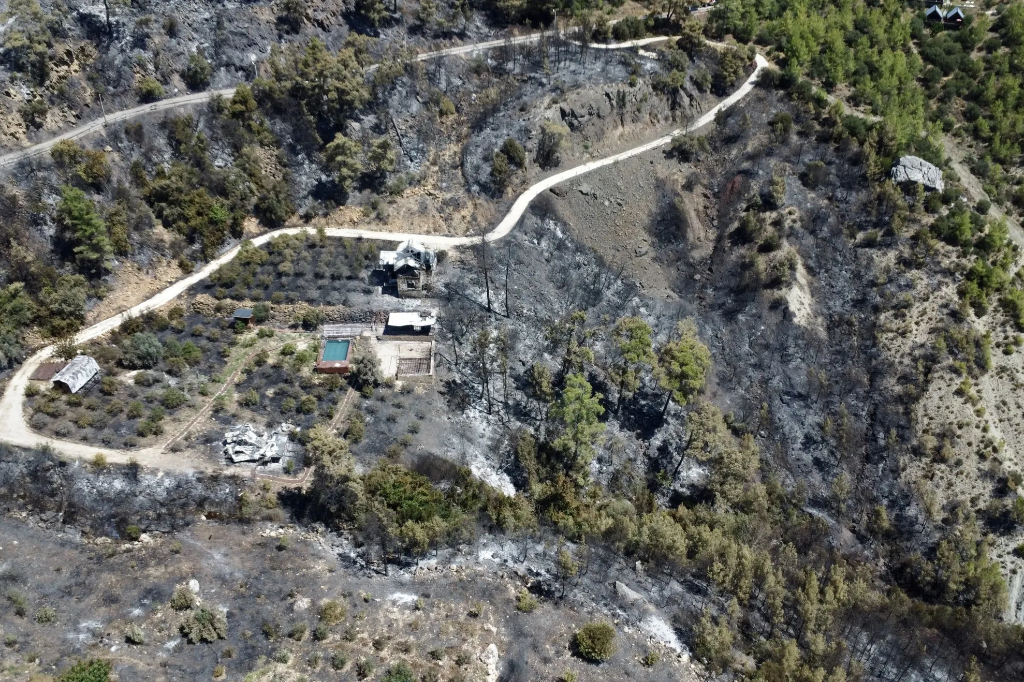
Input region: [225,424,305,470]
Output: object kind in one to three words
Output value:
building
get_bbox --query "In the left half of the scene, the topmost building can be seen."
[378,235,437,298]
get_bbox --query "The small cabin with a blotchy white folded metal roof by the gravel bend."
[50,348,113,392]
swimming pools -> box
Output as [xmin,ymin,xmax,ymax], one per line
[317,337,353,375]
